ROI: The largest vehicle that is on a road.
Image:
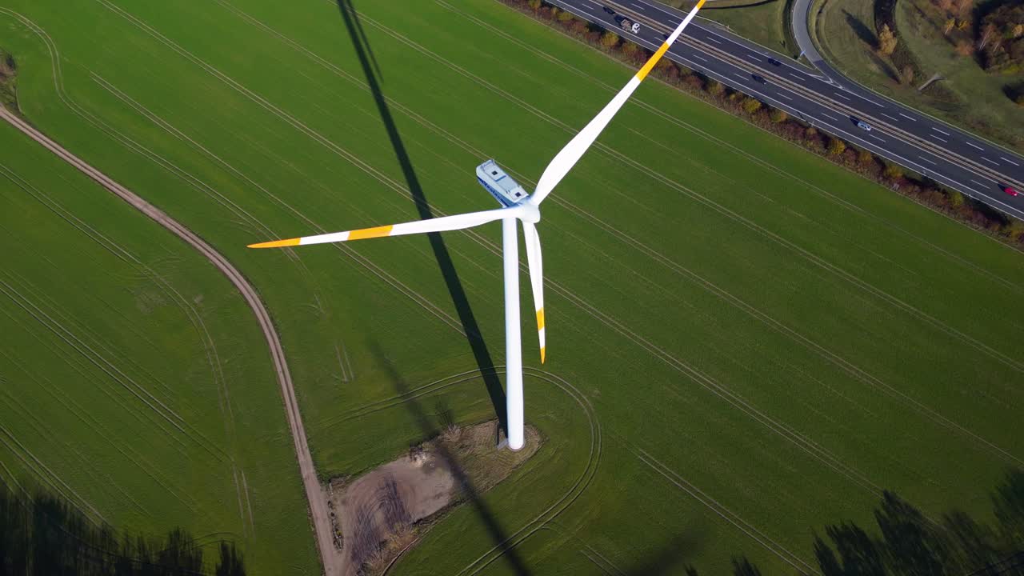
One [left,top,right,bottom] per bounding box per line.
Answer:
[622,20,642,35]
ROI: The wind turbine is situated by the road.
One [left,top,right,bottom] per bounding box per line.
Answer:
[251,0,708,449]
